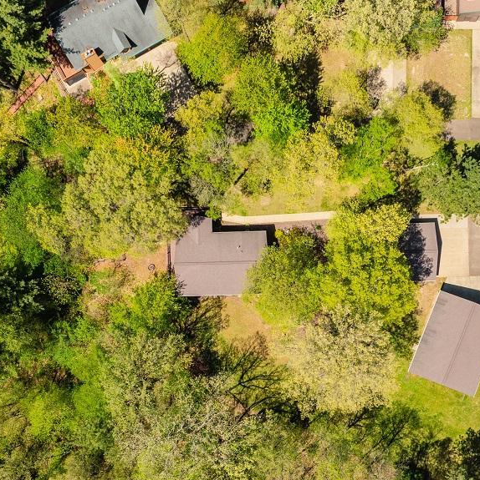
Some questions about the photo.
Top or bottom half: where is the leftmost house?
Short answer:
top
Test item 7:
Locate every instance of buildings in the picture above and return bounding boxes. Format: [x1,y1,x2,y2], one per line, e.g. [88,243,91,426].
[397,221,438,282]
[43,0,172,87]
[171,208,267,295]
[439,0,480,21]
[408,291,480,397]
